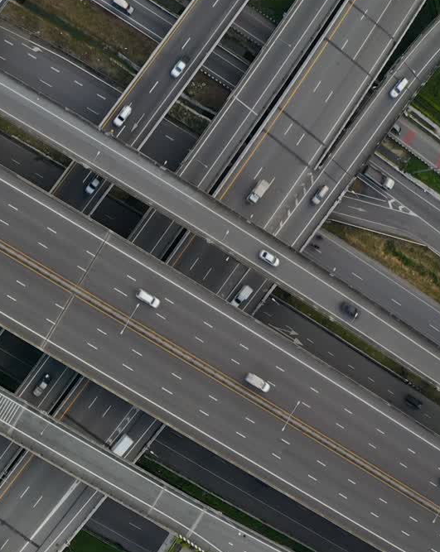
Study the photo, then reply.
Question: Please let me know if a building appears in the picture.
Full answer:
No, the scene contains no building.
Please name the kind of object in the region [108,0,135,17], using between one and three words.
vehicle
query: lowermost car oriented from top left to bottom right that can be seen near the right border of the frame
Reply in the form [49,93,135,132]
[403,393,424,410]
